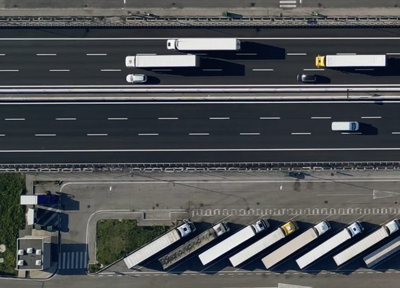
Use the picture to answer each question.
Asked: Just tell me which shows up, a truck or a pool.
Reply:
truck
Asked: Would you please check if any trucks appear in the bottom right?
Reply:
Yes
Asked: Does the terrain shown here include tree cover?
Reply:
No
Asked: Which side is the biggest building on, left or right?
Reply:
left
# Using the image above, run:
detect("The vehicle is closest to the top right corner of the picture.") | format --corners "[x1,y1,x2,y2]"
[316,54,389,67]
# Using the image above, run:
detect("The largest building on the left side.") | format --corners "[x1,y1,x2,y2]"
[16,237,50,270]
